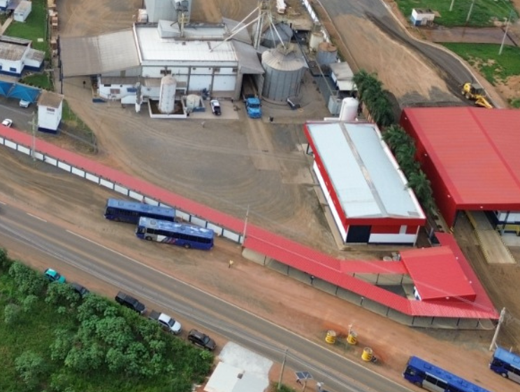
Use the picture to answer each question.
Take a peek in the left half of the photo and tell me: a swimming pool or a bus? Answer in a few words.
bus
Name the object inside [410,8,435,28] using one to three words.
shed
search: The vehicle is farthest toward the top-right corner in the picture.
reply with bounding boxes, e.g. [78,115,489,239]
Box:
[456,79,500,105]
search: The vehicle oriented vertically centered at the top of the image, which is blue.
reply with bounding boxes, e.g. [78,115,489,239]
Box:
[245,84,261,115]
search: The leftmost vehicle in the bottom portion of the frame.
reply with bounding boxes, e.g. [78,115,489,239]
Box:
[42,263,69,283]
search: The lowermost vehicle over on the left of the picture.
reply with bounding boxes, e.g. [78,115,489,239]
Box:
[185,324,218,350]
